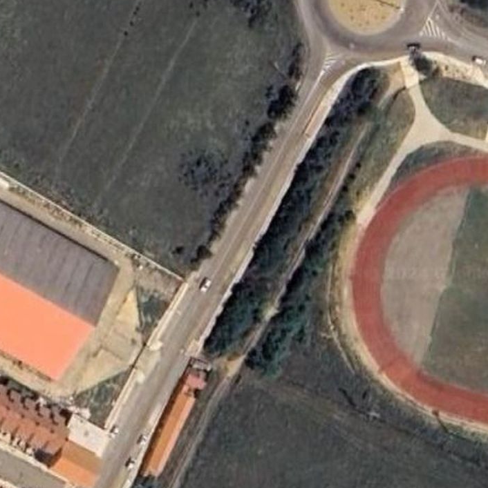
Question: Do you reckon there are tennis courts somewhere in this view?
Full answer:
No, there's no tennis court here.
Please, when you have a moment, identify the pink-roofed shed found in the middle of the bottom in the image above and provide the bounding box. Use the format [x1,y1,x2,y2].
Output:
[181,372,205,391]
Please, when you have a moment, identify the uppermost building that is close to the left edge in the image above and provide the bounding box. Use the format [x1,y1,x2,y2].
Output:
[0,203,118,382]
